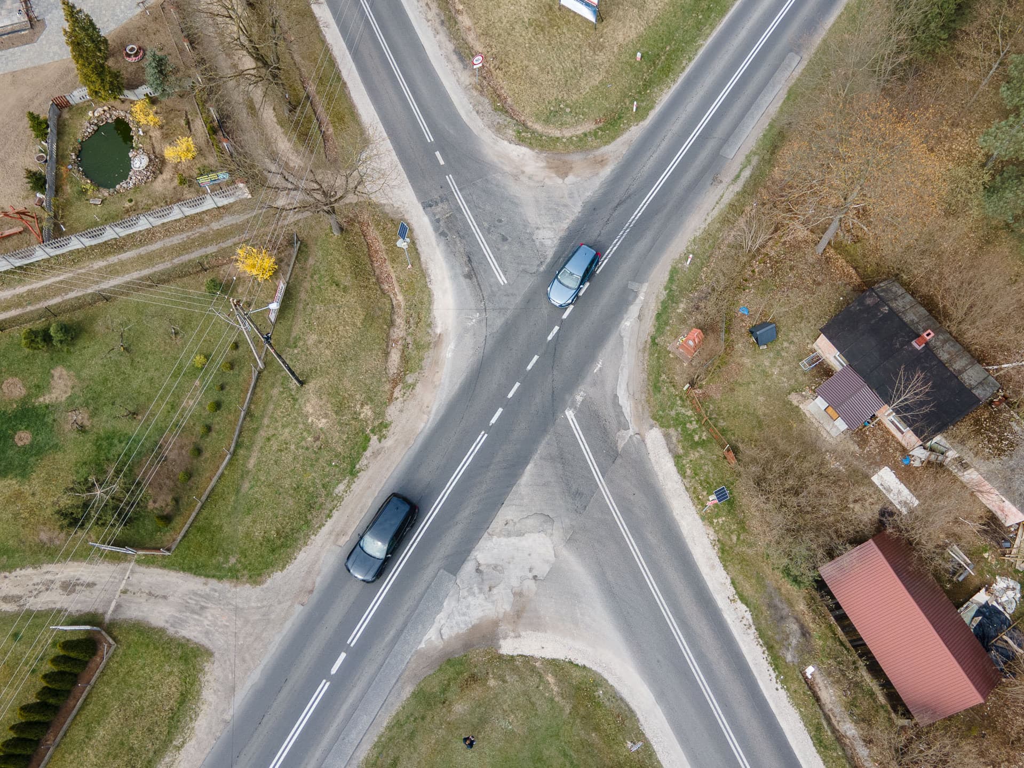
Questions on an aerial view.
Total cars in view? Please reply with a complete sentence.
Looking from above, you can make out 2 cars.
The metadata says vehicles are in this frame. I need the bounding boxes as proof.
[346,489,419,583]
[548,242,603,310]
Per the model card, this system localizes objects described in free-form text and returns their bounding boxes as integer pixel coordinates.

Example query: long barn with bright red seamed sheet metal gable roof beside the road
[808,527,997,724]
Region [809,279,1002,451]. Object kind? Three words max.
house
